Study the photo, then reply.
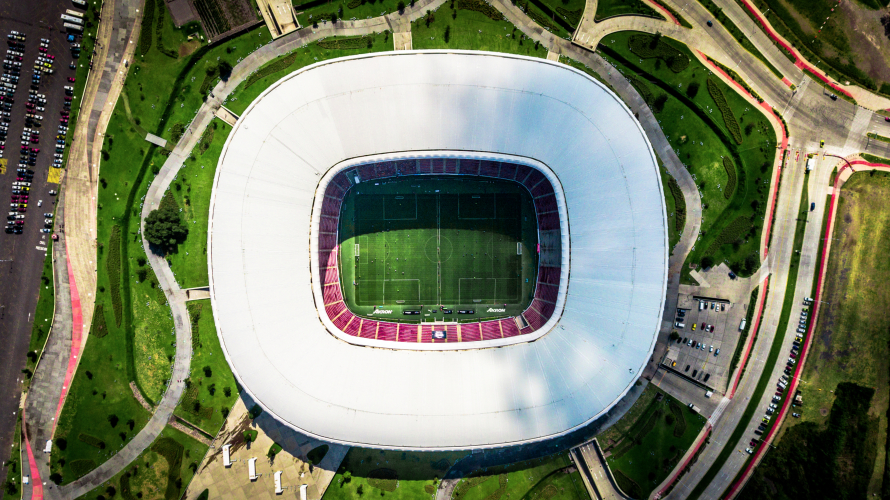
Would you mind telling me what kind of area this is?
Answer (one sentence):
This looks like a sports ground.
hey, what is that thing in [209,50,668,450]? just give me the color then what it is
white stadium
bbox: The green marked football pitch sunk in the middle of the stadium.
[340,176,538,324]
